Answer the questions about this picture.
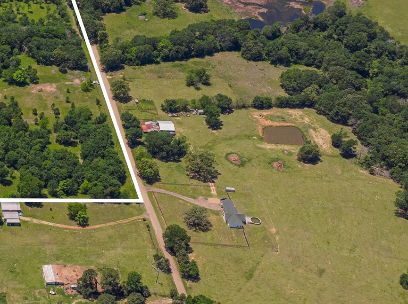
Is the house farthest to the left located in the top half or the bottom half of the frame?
bottom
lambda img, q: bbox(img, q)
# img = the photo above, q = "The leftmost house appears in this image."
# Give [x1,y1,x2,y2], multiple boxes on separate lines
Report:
[0,197,23,228]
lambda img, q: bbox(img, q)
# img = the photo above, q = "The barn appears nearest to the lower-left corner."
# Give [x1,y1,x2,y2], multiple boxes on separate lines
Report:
[41,265,64,288]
